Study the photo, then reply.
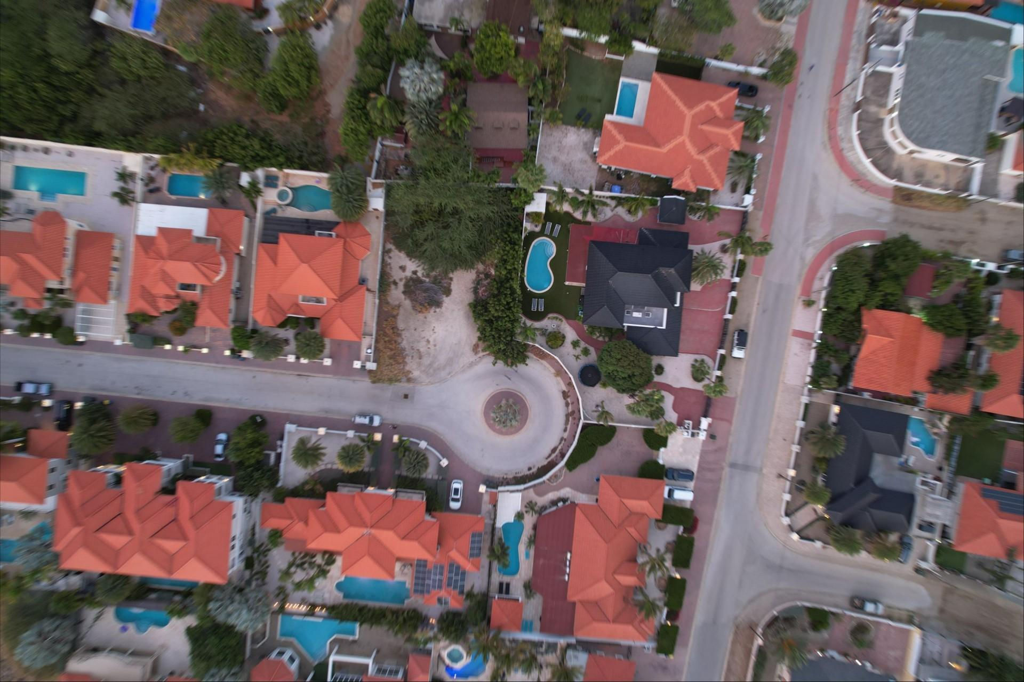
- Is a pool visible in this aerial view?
Yes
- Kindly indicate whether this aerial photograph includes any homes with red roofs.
Yes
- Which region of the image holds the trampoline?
center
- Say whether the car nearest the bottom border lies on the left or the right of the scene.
right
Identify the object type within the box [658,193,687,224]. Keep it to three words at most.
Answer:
gazebo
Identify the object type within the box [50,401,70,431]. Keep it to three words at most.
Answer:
car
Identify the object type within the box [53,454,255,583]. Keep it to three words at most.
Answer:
house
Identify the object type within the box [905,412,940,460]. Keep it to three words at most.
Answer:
swimming pool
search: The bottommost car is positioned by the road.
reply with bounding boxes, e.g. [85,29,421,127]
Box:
[851,596,888,617]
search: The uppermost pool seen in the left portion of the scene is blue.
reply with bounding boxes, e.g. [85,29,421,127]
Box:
[130,0,158,35]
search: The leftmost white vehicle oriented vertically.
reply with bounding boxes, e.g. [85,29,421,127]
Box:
[448,480,463,511]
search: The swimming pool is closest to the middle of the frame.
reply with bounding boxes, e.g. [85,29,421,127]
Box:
[524,237,556,293]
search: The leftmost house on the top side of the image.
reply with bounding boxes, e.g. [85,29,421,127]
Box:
[0,212,96,310]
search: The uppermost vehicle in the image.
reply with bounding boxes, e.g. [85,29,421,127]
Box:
[729,78,761,97]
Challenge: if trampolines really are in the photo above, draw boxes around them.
[578,364,603,387]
